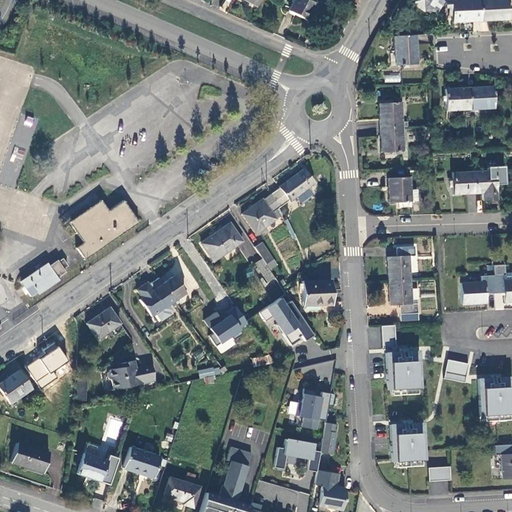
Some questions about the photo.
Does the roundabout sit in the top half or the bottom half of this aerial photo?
top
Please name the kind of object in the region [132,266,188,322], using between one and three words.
house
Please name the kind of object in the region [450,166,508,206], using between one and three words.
house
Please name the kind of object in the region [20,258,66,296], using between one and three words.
building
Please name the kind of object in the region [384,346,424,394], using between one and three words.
building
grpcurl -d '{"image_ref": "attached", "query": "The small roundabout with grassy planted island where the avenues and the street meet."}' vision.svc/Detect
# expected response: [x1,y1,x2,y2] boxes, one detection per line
[276,51,358,171]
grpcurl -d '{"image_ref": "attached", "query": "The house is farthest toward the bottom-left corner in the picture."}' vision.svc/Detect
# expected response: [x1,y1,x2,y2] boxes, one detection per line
[12,442,52,475]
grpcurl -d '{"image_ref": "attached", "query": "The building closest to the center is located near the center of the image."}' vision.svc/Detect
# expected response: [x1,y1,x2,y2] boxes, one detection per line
[252,241,277,286]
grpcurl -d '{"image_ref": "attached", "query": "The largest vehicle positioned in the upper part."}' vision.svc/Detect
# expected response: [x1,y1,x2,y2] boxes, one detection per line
[10,146,23,159]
